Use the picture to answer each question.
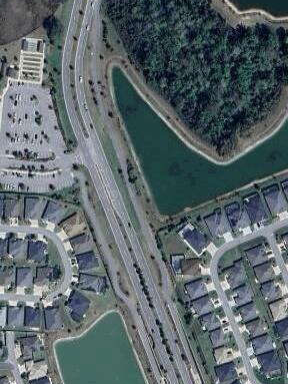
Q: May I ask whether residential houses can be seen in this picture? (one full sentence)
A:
Yes, I can see a residential house in this picture.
